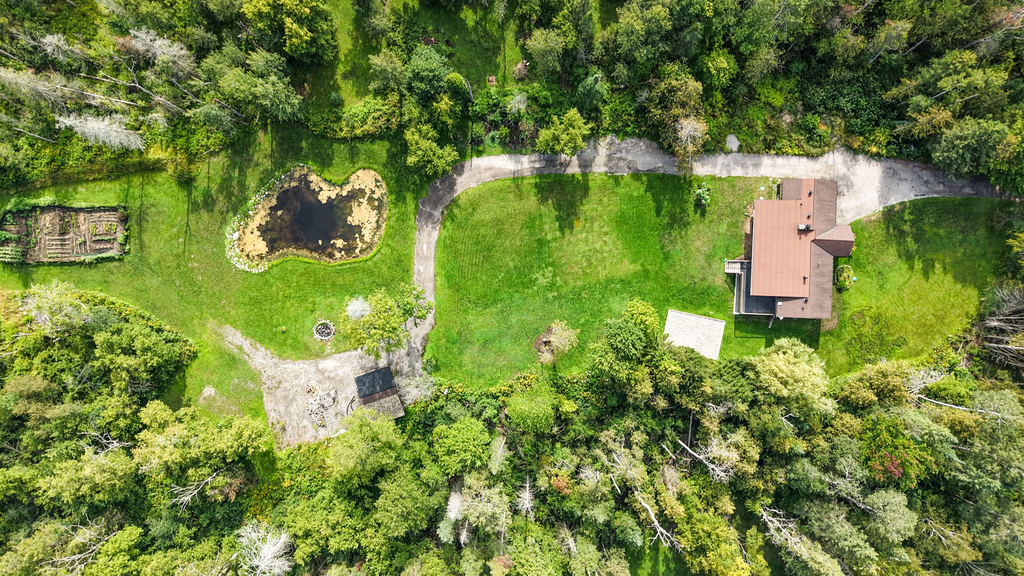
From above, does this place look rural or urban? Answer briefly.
rural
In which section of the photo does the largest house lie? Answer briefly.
right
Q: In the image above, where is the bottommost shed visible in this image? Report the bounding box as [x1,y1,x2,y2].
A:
[355,365,406,418]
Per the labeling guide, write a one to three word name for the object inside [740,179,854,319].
house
